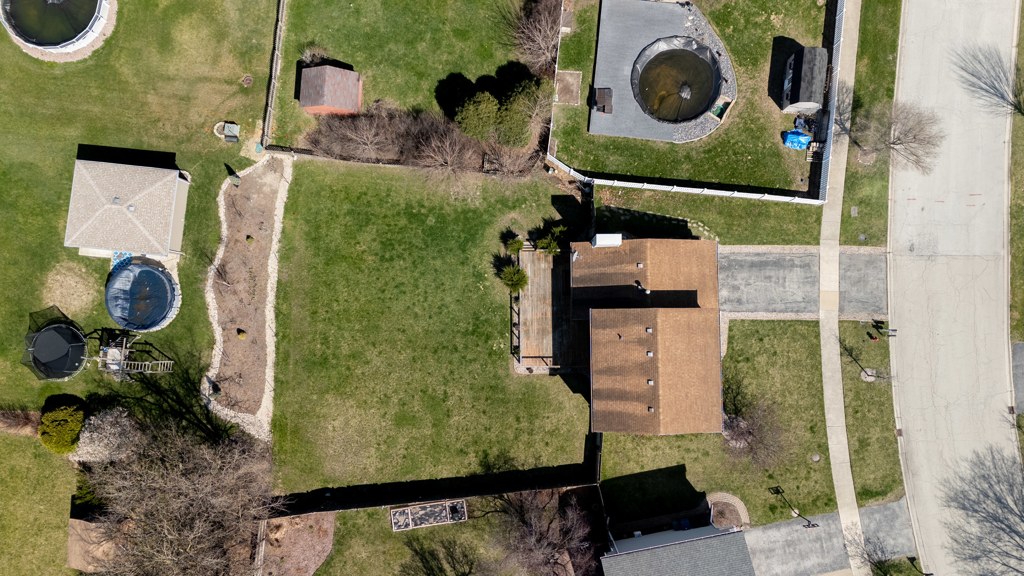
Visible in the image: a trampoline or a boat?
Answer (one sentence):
It is a trampoline that can be seen here.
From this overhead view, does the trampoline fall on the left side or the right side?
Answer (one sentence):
The trampoline sits on the left side.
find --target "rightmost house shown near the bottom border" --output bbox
[595,506,755,576]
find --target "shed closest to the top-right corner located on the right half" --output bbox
[782,44,832,113]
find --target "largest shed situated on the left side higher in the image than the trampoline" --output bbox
[64,158,190,258]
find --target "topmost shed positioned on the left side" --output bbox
[299,67,363,117]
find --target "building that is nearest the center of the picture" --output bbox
[569,233,725,438]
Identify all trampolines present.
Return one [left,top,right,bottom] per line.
[17,324,92,382]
